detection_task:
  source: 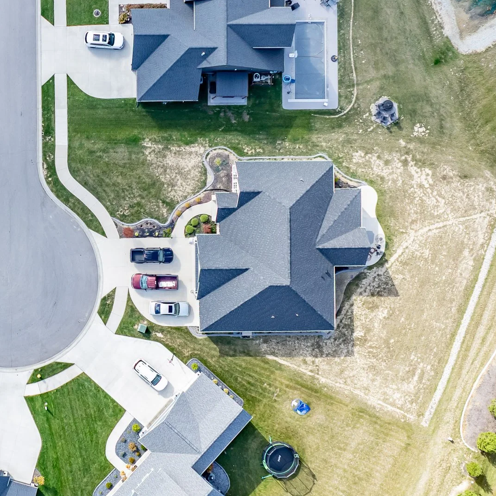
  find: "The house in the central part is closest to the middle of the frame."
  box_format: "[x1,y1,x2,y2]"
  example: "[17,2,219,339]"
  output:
[189,161,371,332]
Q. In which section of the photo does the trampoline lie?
bottom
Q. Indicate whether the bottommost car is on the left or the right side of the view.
left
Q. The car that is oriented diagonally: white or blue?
white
